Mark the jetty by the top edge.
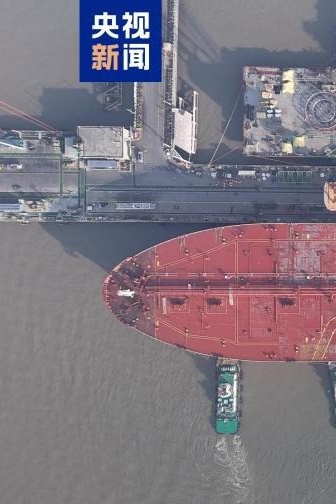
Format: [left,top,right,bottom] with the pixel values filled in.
[131,0,177,150]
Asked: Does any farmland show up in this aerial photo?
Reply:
No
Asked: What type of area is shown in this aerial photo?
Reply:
port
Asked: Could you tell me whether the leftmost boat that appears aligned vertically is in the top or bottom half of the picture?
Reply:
bottom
